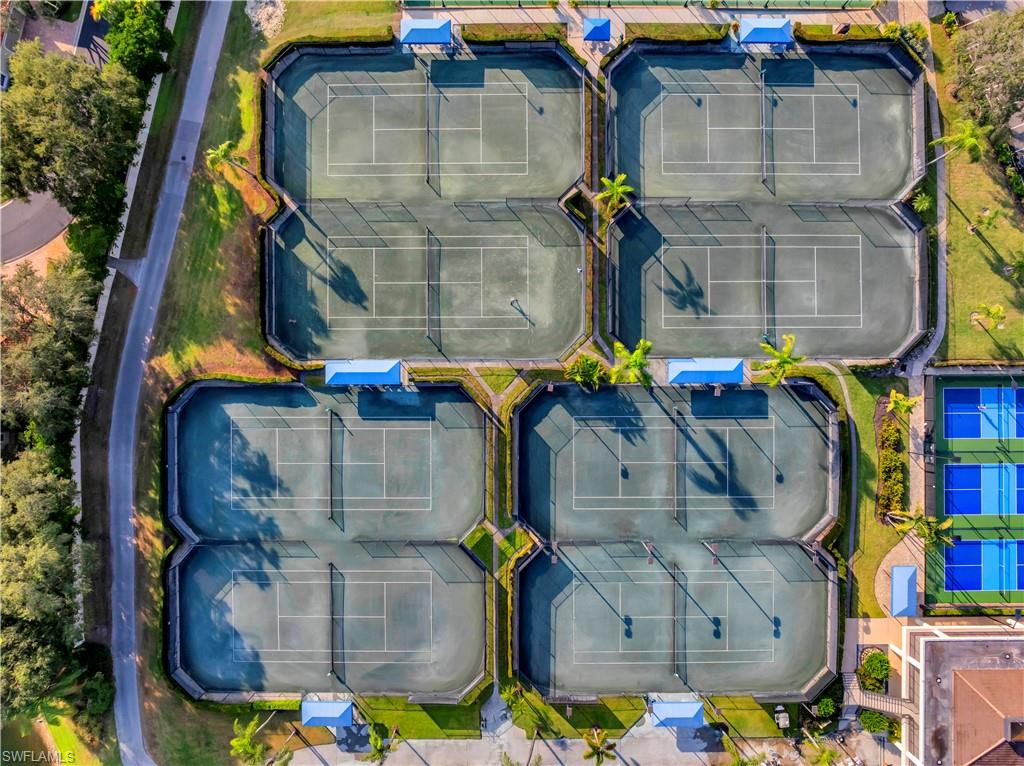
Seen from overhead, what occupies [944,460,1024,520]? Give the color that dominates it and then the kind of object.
blue sports court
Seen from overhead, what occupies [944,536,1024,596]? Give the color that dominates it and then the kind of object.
blue sports court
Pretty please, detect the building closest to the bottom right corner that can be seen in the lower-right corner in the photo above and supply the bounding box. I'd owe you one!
[887,616,1024,766]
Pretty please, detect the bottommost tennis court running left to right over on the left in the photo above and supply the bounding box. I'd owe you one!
[177,542,483,693]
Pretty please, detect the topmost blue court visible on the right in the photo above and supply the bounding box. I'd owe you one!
[944,384,1024,443]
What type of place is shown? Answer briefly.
sports ground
